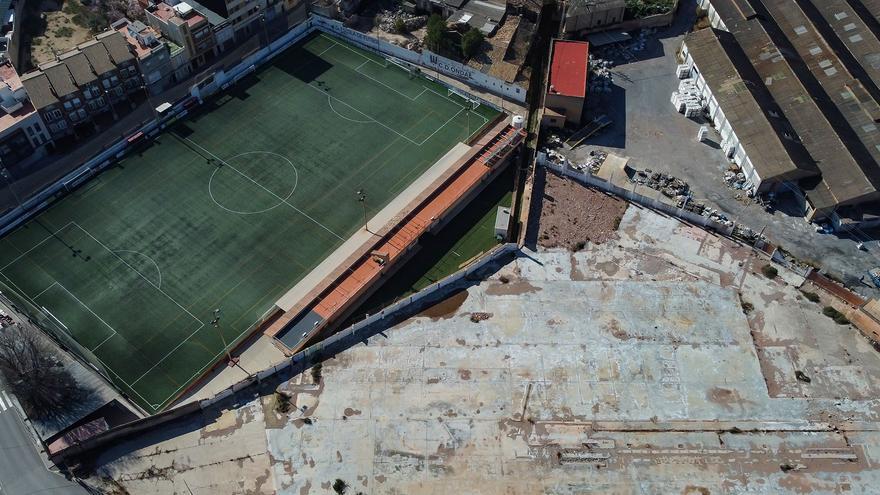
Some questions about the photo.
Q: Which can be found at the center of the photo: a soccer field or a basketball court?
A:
soccer field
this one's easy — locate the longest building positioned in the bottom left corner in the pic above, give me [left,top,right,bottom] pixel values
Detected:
[42,400,146,470]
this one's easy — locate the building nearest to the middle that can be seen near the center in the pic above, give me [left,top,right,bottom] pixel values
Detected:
[495,206,511,237]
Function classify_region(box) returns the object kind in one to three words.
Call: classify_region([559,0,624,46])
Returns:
hangar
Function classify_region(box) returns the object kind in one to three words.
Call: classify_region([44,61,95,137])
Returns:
house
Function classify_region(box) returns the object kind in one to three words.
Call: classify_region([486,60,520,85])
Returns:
house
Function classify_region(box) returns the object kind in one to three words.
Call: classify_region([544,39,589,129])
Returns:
building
